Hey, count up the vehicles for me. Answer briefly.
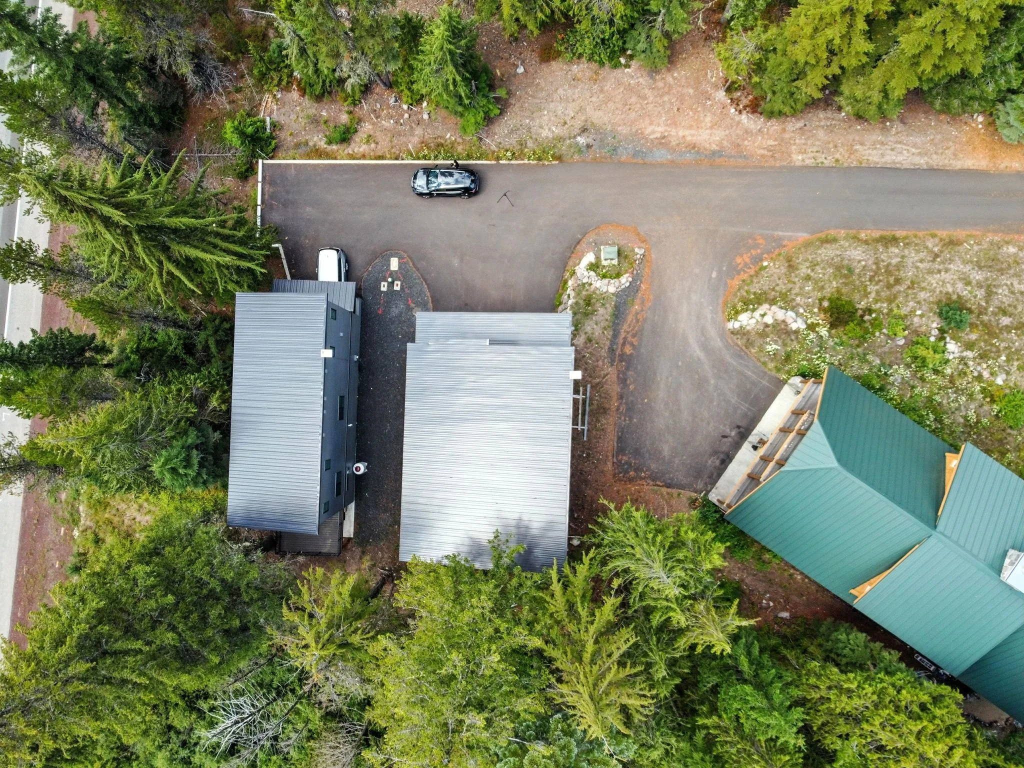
2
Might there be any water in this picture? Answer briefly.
No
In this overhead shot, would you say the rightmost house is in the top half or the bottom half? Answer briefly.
bottom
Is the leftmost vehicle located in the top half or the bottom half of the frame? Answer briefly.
top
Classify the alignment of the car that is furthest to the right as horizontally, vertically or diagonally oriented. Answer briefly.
horizontally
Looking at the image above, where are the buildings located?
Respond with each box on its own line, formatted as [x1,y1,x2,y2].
[227,280,360,536]
[399,311,582,571]
[712,364,1024,719]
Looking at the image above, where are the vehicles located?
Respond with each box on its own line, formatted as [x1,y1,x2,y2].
[411,165,479,199]
[318,248,349,282]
